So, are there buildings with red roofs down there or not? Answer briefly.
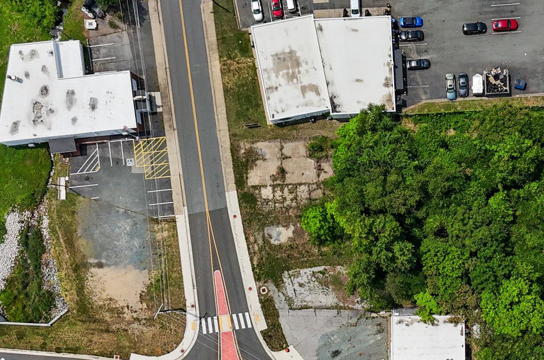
No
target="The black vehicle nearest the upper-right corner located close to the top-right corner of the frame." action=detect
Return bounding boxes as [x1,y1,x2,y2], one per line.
[462,20,486,33]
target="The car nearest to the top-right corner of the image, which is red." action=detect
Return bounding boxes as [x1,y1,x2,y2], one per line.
[492,17,519,31]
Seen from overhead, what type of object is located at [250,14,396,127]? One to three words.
building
